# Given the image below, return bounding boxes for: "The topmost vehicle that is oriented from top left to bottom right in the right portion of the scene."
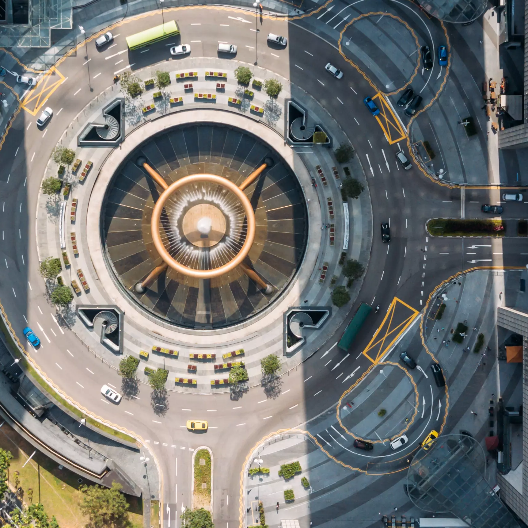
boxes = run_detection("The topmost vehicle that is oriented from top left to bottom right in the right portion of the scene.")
[324,61,344,79]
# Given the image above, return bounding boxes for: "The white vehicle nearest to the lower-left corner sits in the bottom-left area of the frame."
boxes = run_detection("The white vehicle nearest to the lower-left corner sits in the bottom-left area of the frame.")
[100,385,122,401]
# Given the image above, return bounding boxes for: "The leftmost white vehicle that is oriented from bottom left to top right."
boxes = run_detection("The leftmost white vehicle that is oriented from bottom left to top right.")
[36,106,54,128]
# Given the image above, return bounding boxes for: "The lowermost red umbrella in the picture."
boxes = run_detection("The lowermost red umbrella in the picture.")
[483,435,498,449]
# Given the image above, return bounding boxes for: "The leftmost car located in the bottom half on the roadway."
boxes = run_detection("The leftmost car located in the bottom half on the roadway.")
[23,326,41,348]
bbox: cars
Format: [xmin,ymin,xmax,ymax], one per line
[216,43,239,54]
[388,434,409,449]
[431,362,446,386]
[399,350,417,372]
[16,74,38,86]
[480,204,503,214]
[265,33,288,45]
[363,96,380,117]
[100,385,122,401]
[36,106,54,128]
[0,66,8,76]
[380,221,389,242]
[324,61,344,79]
[352,438,374,450]
[186,420,208,431]
[23,326,41,348]
[405,96,422,117]
[170,44,191,55]
[397,87,413,109]
[504,192,523,202]
[394,151,411,170]
[422,47,431,68]
[93,31,115,49]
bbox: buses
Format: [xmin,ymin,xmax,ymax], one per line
[333,300,375,354]
[125,22,183,51]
